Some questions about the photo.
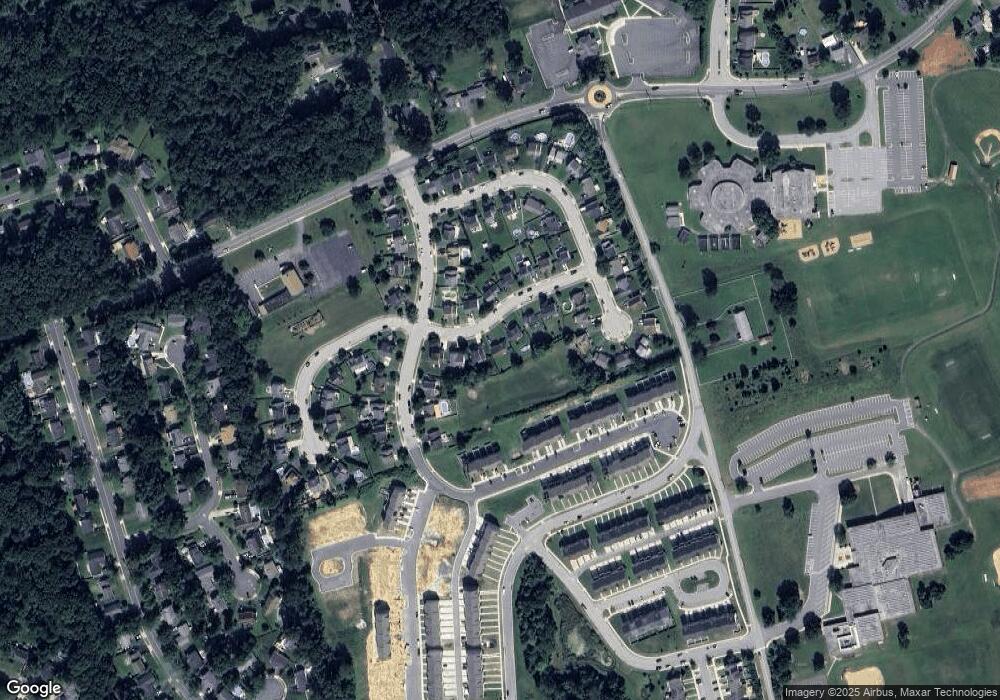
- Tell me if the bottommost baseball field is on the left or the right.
right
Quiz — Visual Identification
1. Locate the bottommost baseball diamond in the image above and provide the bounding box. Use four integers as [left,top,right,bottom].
[843,666,884,700]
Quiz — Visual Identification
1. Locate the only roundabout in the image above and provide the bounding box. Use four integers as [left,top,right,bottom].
[577,78,622,122]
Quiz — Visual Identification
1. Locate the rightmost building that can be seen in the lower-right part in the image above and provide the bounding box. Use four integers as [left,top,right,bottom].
[823,492,952,660]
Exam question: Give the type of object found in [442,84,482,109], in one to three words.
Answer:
house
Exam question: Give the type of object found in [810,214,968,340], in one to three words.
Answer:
sports field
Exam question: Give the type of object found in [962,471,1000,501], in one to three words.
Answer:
baseball field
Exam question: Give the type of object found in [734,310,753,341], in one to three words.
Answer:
barn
